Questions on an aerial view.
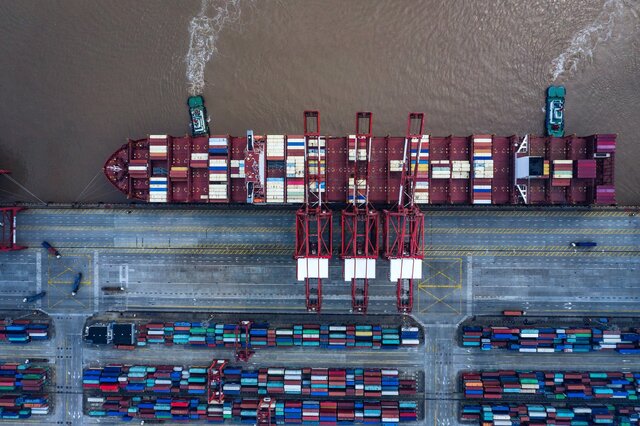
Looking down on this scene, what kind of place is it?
port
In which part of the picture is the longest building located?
bottom left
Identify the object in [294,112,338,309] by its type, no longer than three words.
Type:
container crane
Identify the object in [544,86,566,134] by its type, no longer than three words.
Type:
boat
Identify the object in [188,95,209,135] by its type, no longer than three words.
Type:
boat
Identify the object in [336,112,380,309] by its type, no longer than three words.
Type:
container crane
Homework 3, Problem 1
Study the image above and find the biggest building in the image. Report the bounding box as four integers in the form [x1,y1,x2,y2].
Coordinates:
[87,322,138,345]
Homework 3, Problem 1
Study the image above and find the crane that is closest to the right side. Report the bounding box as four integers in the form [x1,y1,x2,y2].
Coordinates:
[379,112,425,309]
